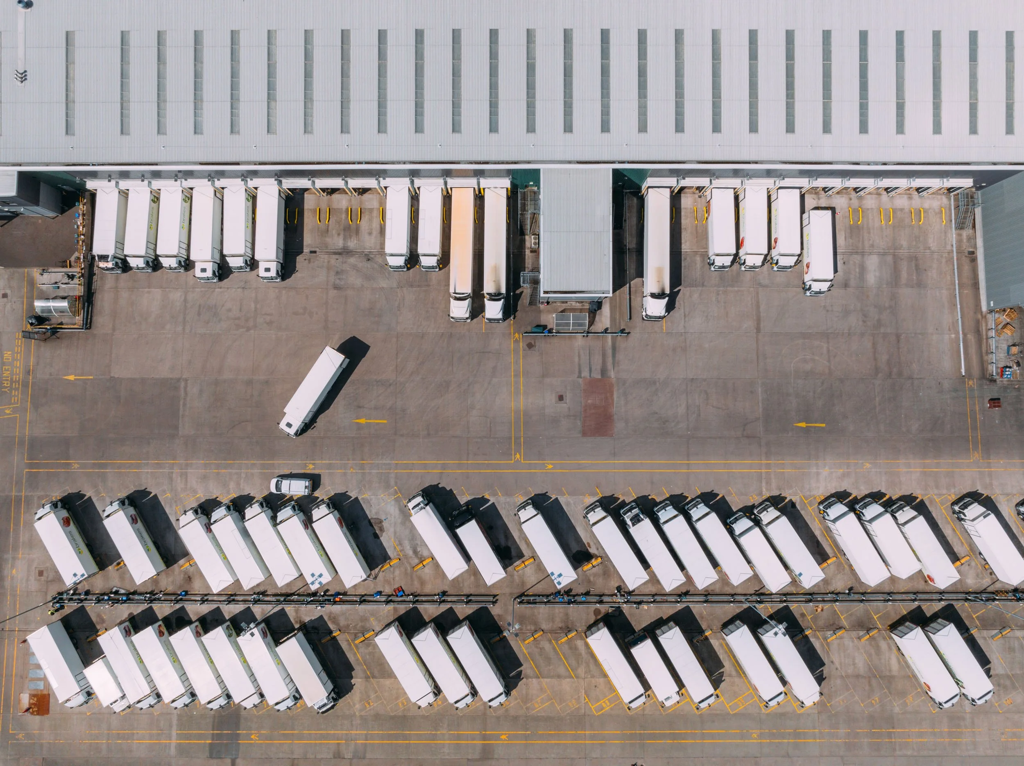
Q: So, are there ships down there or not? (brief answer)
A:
No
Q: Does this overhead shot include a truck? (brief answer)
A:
Yes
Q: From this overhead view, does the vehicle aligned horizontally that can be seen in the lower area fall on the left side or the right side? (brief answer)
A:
left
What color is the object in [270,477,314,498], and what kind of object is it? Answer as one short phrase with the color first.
white vehicle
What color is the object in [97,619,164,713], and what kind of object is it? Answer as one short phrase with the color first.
white truck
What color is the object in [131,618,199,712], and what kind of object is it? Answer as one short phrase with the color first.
white truck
